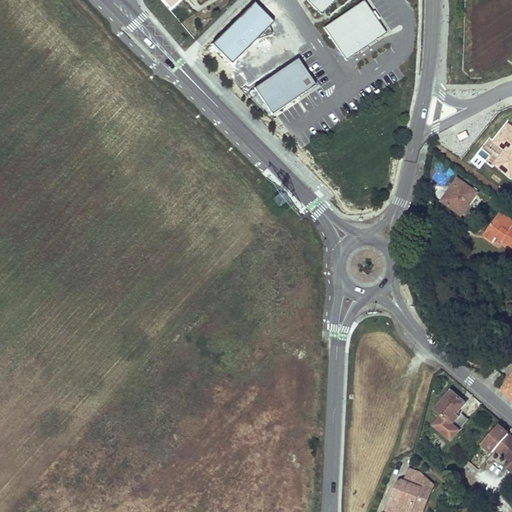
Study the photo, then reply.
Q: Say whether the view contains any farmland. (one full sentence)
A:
Yes, the picture does contain farmland.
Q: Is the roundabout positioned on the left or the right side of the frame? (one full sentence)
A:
The roundabout is on the right side of the image.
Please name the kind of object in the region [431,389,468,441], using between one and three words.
house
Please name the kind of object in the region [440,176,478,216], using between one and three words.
house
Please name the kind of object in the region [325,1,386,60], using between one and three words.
building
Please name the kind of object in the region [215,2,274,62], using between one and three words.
building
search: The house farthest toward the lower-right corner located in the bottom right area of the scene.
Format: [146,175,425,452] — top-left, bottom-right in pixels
[480,424,512,473]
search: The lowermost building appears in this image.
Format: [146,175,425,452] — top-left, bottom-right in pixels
[384,468,434,512]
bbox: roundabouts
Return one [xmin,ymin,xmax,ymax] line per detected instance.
[338,238,396,296]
